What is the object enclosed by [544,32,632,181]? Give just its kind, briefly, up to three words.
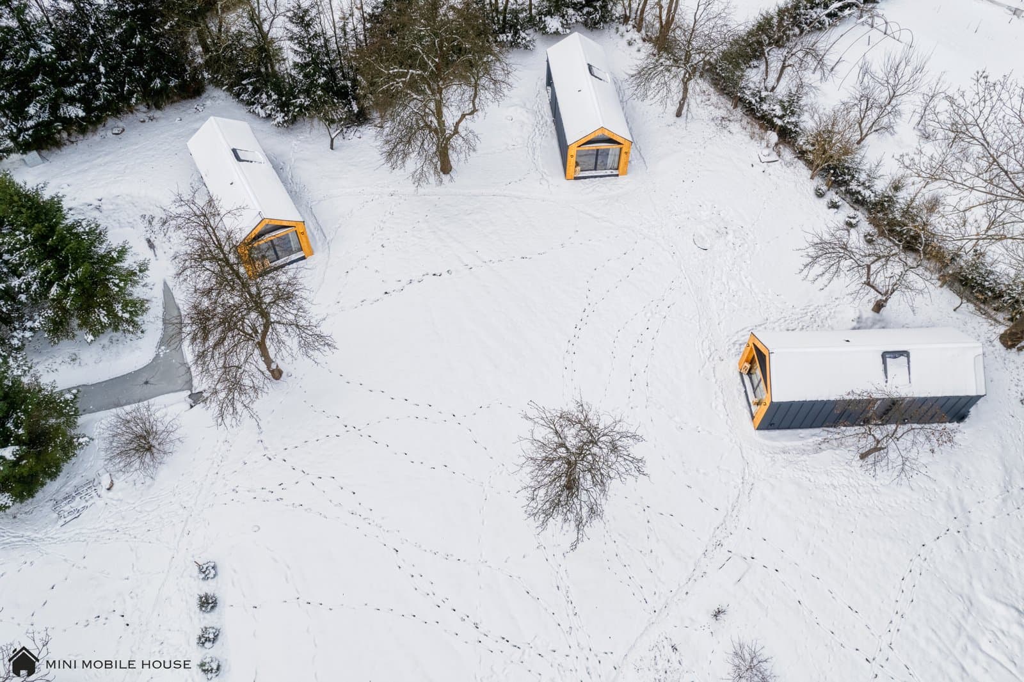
house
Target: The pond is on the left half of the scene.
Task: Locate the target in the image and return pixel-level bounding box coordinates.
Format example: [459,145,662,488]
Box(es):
[37,284,196,420]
